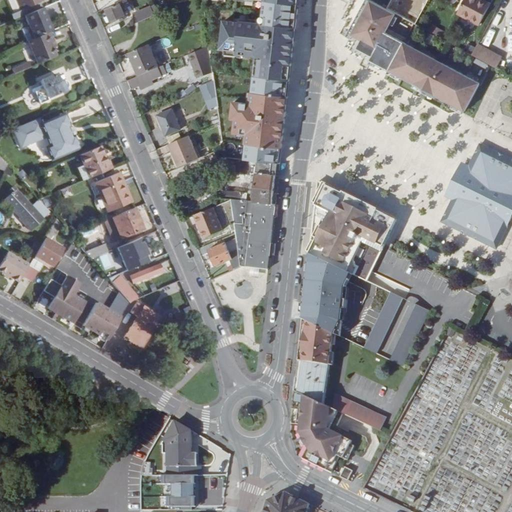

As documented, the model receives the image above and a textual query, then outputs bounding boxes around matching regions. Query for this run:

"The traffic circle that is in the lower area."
[215,378,288,451]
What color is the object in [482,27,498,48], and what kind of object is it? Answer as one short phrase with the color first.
white vehicle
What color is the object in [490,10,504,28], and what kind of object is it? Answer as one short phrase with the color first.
white vehicle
